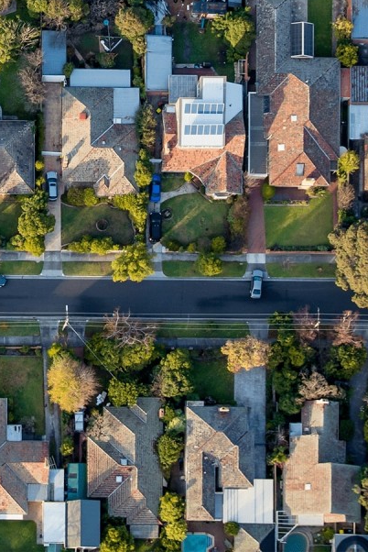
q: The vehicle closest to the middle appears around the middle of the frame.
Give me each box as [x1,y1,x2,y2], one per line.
[149,213,162,244]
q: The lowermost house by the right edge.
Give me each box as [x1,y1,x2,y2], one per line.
[282,397,362,527]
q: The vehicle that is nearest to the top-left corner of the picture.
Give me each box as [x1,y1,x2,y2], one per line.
[45,172,58,200]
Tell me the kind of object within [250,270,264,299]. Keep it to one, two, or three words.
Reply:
vehicle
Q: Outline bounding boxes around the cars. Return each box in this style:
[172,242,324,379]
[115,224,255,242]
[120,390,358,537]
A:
[250,270,264,299]
[0,276,6,289]
[149,213,162,244]
[150,175,163,203]
[45,172,58,200]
